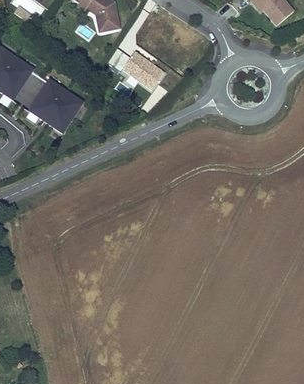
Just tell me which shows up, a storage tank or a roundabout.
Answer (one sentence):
It is a roundabout that can be seen here.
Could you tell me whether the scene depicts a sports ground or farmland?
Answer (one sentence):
What you see here is farmland.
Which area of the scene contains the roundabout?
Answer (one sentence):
You can find the roundabout in the top right area of the picture.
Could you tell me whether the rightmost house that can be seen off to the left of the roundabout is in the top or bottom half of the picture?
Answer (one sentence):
Seen from above, the rightmost house that can be seen off to the left of the roundabout lies in the top half of the view.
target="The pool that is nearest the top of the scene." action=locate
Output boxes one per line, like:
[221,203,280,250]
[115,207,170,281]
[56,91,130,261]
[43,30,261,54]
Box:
[75,24,96,42]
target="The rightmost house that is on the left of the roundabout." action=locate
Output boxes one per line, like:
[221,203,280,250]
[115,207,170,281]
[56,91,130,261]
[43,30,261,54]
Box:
[123,50,166,93]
